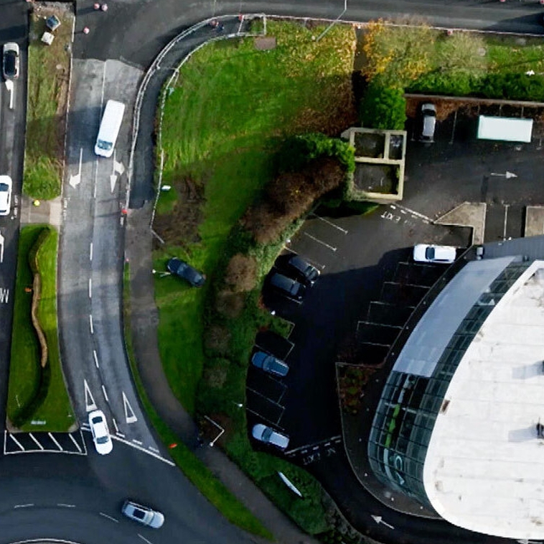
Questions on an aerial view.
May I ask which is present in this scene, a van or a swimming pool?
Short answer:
van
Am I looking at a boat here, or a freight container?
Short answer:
freight container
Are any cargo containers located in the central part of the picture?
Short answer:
No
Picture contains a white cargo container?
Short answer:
Yes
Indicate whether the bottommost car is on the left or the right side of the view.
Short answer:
left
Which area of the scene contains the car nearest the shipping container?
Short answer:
top right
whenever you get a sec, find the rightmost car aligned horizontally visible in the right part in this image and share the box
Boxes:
[412,243,457,264]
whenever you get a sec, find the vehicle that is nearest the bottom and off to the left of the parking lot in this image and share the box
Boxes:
[121,499,163,526]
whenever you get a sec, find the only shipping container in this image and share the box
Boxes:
[473,116,533,142]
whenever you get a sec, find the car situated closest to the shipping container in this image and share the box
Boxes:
[416,104,439,144]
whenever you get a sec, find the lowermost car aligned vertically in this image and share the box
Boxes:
[89,408,111,453]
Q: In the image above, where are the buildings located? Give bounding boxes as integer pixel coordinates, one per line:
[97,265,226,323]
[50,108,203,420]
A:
[347,126,407,205]
[369,233,544,540]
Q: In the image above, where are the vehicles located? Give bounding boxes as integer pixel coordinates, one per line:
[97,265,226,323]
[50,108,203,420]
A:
[0,176,12,215]
[249,424,291,451]
[121,499,163,526]
[266,271,305,298]
[89,408,111,453]
[249,350,291,376]
[416,104,439,144]
[0,42,20,83]
[412,243,457,264]
[93,96,123,158]
[284,252,322,285]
